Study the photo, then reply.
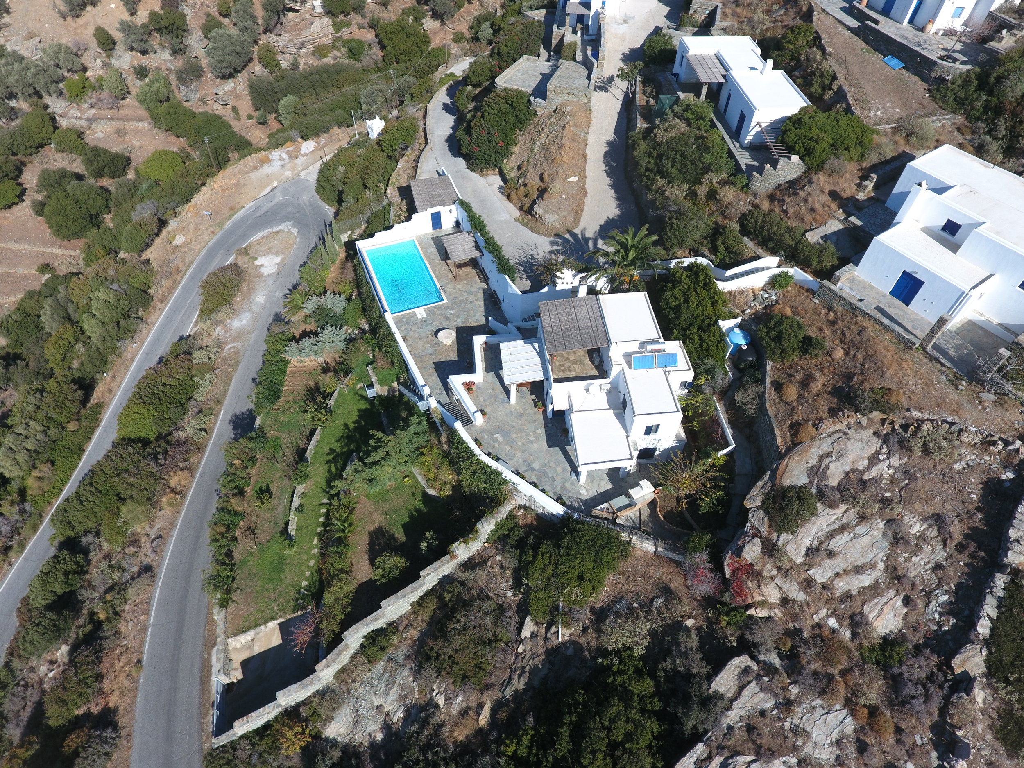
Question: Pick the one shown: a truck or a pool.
pool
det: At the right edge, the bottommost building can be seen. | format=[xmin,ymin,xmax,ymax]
[857,144,1024,332]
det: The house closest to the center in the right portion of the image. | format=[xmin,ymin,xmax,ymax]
[538,292,696,483]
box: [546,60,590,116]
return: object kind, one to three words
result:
building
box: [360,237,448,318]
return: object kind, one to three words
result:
swimming pool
